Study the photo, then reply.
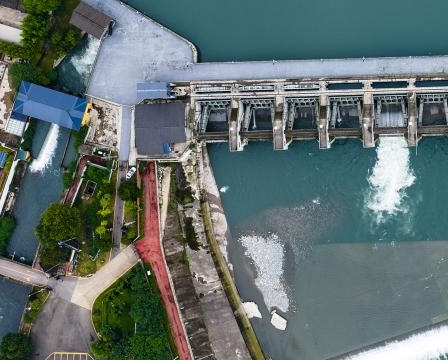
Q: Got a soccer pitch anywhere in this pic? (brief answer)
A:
No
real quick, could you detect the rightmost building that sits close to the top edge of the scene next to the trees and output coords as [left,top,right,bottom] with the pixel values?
[69,2,119,43]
